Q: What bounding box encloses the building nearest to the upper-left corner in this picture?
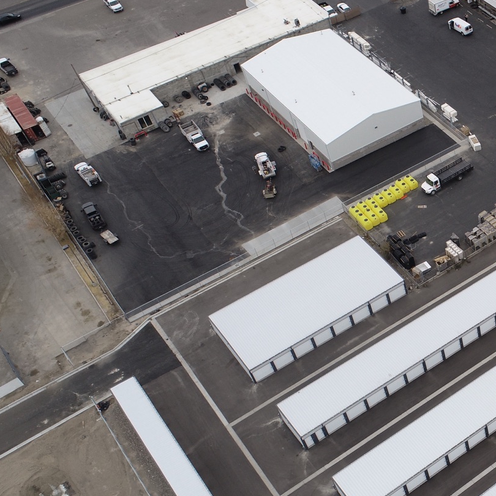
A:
[78,0,333,137]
